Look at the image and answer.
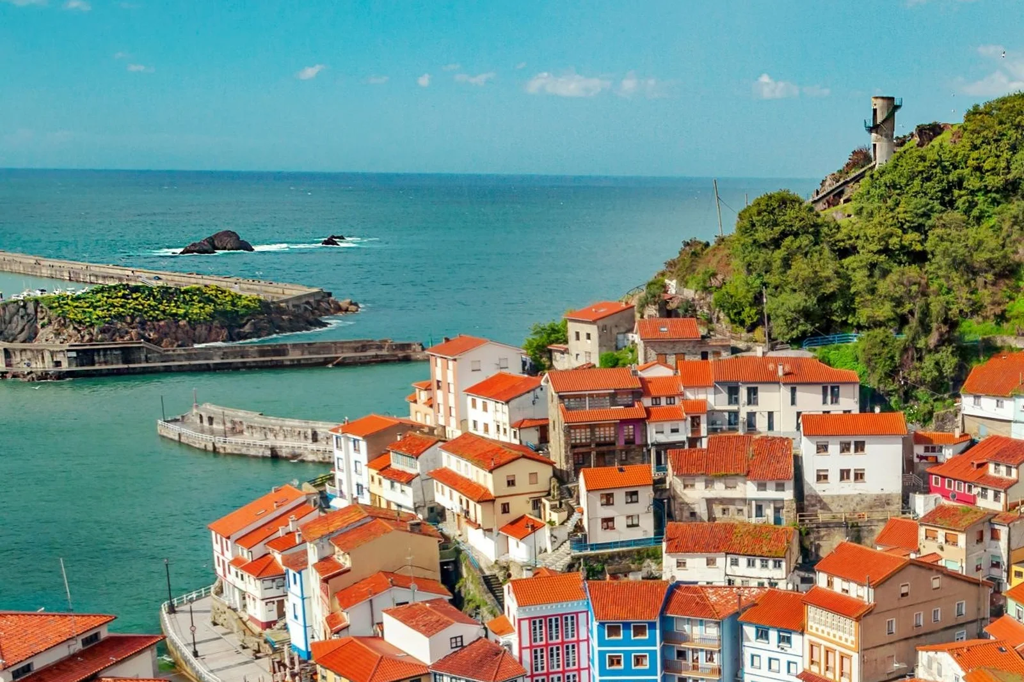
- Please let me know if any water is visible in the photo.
Yes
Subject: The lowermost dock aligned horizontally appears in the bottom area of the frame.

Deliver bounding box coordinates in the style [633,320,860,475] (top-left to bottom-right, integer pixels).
[158,391,406,465]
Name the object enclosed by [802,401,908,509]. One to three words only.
house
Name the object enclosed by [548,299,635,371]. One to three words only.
house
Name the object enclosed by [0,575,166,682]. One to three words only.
building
